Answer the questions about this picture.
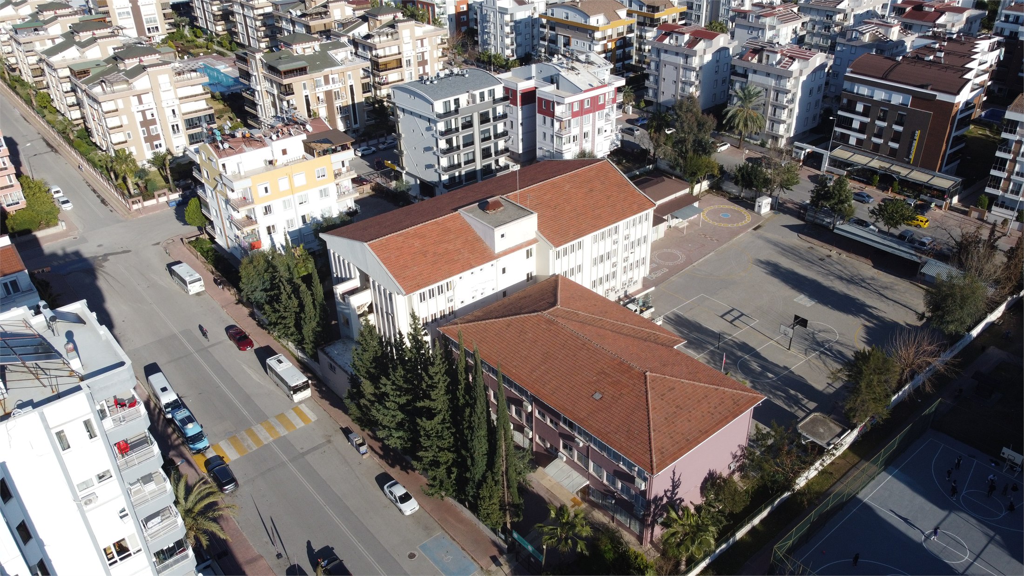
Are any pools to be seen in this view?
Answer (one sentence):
Yes, there's a pool down there.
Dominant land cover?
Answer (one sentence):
The scene is dominated by buildings.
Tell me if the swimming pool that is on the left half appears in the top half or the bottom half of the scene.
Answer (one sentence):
You can find the swimming pool that is on the left half in the top half.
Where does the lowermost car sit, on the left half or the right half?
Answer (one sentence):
The lowermost car is on the left side of the image.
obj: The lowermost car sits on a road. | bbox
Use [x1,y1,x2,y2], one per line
[321,556,356,576]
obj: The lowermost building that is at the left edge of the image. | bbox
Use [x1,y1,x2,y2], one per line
[0,298,203,576]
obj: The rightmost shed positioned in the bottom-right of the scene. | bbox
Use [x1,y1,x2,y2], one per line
[796,411,852,465]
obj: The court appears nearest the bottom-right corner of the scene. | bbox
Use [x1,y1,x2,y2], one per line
[773,428,1024,576]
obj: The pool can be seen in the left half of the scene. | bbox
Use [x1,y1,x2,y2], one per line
[189,66,244,92]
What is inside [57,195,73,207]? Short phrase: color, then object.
white vehicle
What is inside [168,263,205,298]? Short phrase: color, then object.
white vehicle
